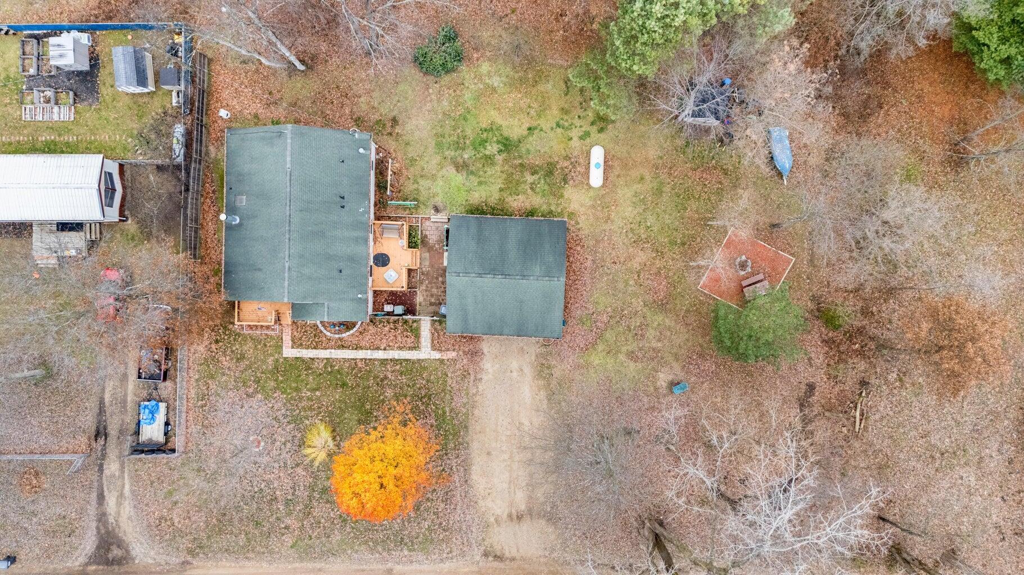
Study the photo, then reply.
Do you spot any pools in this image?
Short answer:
No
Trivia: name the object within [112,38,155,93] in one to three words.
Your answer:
shed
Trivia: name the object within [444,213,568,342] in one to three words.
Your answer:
building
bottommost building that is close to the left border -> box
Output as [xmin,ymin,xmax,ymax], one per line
[0,154,129,223]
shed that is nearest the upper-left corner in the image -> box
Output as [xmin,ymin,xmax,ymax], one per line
[50,34,89,71]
